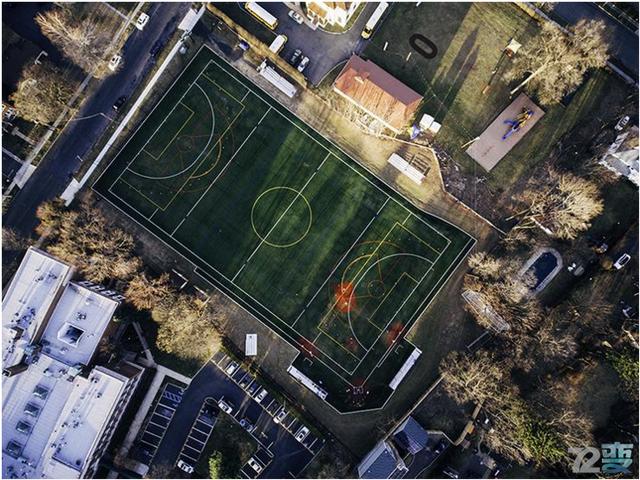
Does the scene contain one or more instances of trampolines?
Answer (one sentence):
No, I can see no trampoline in this picture.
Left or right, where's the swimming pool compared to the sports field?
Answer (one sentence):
In the image, the swimming pool sits on the right side of the sports field.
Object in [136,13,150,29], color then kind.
white vehicle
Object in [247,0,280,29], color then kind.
white bus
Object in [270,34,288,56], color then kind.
white vehicle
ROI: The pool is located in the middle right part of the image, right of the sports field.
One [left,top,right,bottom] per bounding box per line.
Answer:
[514,246,562,301]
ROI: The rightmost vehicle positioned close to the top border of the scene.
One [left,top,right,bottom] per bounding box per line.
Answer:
[361,0,388,39]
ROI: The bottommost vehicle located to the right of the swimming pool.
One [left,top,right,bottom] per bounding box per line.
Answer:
[615,253,629,269]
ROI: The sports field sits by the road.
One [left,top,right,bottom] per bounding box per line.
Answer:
[91,44,477,414]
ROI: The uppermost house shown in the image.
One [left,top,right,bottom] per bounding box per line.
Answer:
[304,0,359,39]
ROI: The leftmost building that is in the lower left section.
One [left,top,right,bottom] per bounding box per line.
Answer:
[0,246,149,480]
